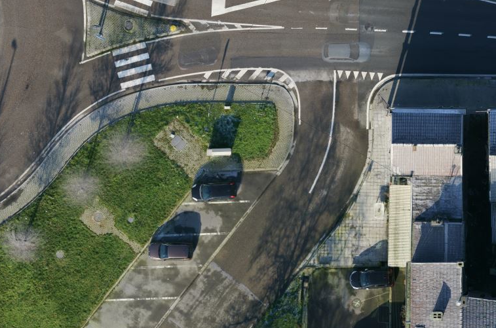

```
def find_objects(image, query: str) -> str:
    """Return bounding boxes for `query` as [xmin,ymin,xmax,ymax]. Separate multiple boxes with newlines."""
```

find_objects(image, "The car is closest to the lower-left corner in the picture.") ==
[149,240,193,262]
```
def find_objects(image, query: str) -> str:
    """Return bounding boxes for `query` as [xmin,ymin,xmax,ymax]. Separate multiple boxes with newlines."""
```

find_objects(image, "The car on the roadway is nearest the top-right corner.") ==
[322,40,371,64]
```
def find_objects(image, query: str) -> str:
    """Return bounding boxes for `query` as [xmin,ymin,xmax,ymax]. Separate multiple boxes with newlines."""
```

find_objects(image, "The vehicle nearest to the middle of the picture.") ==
[191,180,237,203]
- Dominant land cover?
paved ground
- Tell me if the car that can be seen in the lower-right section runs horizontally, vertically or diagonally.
horizontally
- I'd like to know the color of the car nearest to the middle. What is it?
black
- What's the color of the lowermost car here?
black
